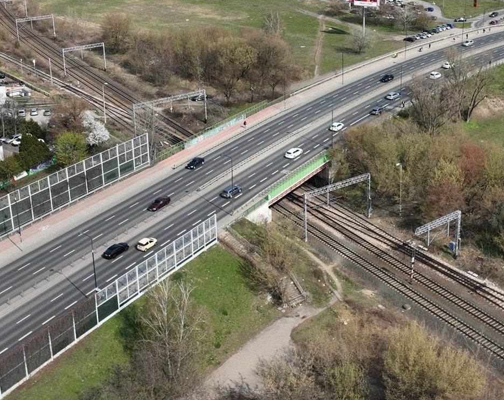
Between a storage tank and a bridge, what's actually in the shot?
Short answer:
bridge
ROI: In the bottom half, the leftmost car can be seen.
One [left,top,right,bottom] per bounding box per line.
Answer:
[101,241,130,259]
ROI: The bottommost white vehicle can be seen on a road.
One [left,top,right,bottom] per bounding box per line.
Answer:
[134,235,159,251]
